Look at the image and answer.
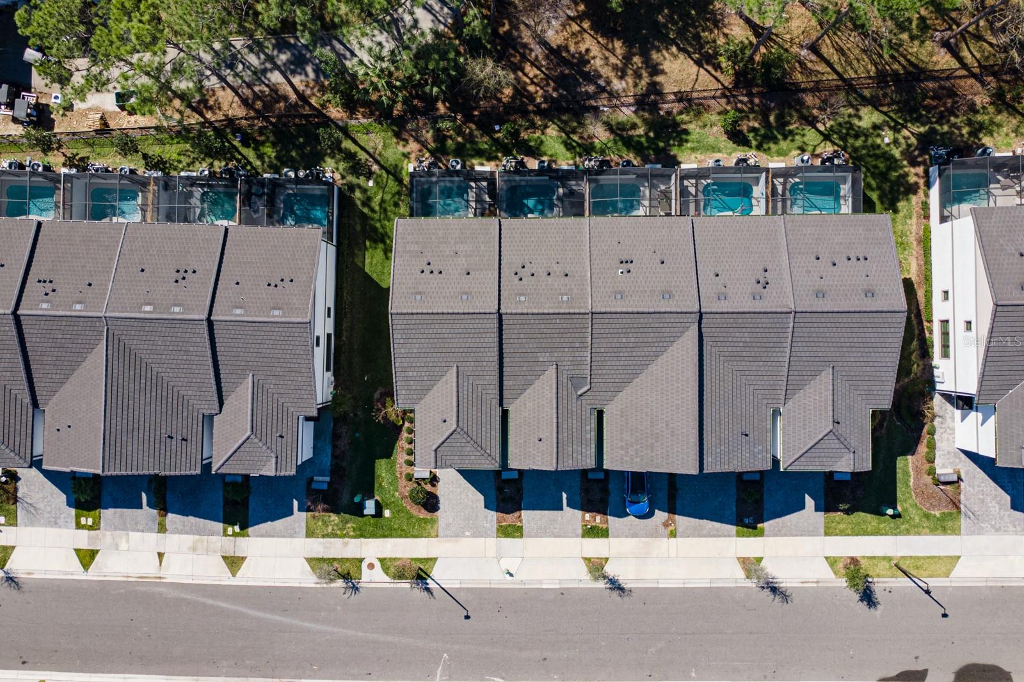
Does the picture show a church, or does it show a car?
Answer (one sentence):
The one in the frame is a car.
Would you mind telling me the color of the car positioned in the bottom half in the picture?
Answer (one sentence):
The car positioned in the bottom half is blue.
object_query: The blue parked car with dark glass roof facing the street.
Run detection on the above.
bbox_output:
[625,475,654,518]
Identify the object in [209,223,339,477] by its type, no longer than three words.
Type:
house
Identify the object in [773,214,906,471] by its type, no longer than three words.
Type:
house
